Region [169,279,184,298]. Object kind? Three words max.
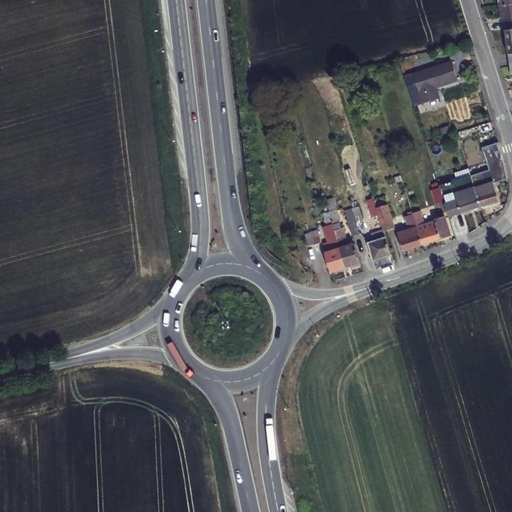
vehicle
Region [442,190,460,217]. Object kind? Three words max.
house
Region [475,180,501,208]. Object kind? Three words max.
house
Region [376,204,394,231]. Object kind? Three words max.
barn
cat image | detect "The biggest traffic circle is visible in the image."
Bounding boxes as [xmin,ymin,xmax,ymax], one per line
[159,253,298,392]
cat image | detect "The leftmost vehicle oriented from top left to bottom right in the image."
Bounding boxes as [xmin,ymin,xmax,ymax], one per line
[166,341,194,378]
